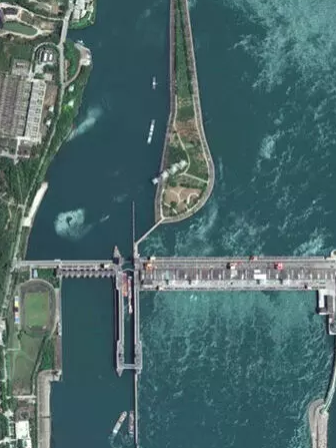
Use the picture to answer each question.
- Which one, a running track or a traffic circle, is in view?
running track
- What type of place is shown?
port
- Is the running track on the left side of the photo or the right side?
left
